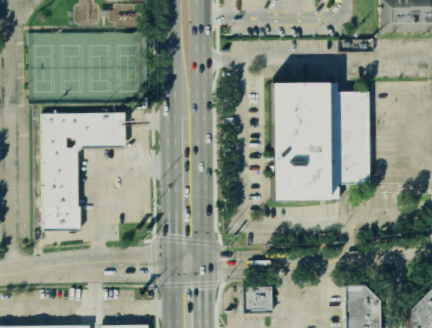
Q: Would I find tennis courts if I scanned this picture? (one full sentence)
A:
Yes, the photo shows a tennis court.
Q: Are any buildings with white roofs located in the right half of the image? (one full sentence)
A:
Yes, a building with a white roof is visible in the right half of the image.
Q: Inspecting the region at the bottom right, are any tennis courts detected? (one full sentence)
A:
No, there's no tennis court to be seen at the bottom right.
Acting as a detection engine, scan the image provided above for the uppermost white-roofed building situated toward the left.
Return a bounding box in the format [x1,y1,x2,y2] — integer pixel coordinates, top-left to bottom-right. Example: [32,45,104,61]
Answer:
[38,111,126,230]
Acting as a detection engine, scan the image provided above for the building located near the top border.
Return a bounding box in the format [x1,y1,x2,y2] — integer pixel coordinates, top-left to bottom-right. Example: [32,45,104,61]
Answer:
[378,0,432,34]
